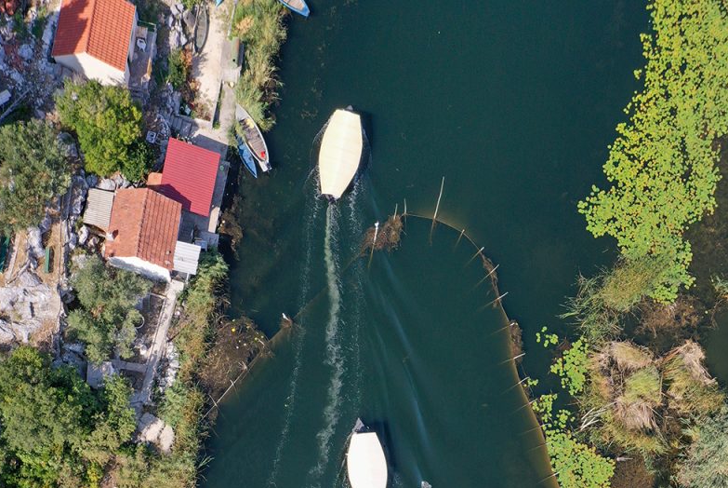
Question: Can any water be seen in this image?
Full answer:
Yes, there's water in this view.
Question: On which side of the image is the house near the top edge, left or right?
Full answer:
The house near the top edge sits on the left side.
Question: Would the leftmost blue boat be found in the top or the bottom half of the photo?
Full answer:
The leftmost blue boat is in the top half of the image.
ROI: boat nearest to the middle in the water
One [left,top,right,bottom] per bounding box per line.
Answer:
[319,104,363,210]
